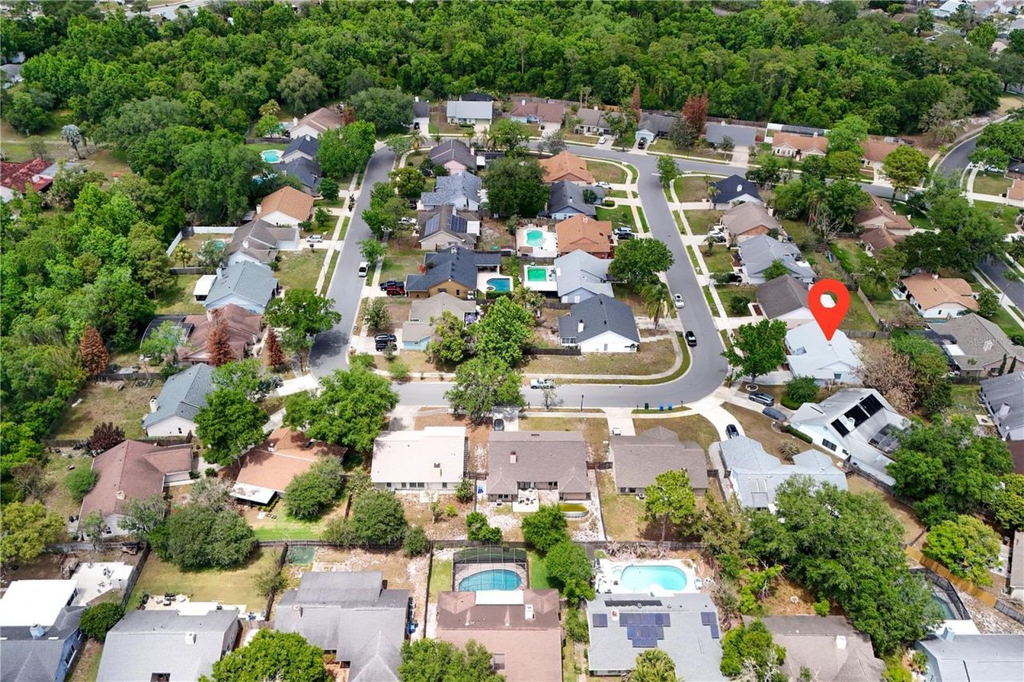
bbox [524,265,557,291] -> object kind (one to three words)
swimming pool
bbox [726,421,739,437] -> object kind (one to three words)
vehicle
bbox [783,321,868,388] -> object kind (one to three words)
house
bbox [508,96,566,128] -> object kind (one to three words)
house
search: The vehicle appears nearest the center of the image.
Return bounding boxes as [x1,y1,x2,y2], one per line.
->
[531,376,556,388]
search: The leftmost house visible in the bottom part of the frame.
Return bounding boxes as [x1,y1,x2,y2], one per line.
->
[0,580,90,682]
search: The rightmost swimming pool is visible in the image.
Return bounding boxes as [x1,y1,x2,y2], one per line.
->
[913,566,967,623]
